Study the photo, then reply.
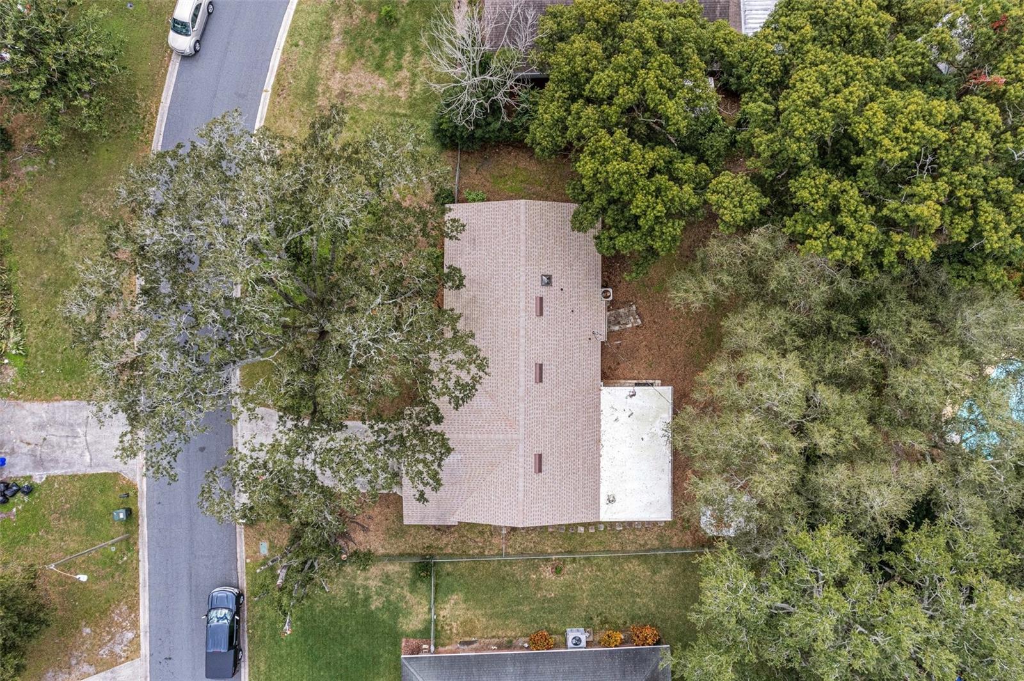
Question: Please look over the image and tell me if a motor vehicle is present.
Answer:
Yes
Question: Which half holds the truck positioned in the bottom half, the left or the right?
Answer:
left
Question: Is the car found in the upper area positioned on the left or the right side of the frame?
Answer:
left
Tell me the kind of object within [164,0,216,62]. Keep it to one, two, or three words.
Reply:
car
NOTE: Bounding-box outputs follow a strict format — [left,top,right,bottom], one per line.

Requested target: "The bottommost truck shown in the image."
[202,586,244,680]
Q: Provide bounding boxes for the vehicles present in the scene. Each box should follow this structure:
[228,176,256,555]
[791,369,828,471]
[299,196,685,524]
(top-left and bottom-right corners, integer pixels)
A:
[164,0,216,62]
[202,586,244,680]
